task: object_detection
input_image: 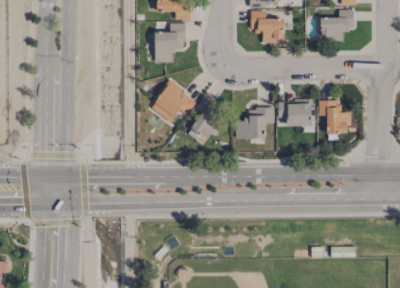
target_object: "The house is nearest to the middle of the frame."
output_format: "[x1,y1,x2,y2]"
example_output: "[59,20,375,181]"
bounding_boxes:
[186,112,222,140]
